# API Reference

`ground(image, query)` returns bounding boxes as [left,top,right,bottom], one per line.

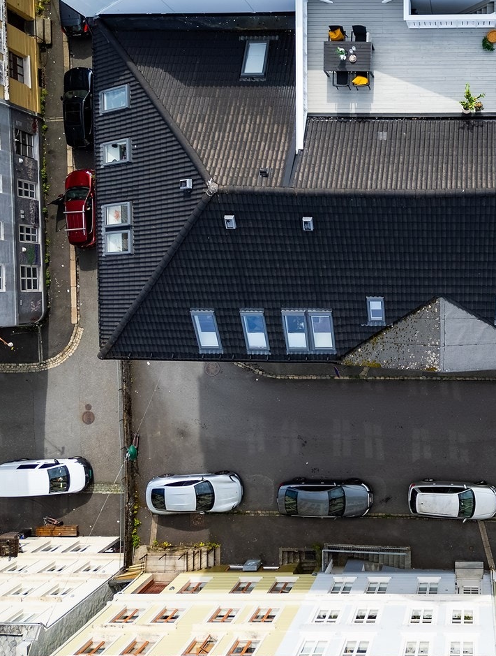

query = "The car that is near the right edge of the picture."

[409,478,496,525]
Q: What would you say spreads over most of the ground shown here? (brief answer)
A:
buildings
